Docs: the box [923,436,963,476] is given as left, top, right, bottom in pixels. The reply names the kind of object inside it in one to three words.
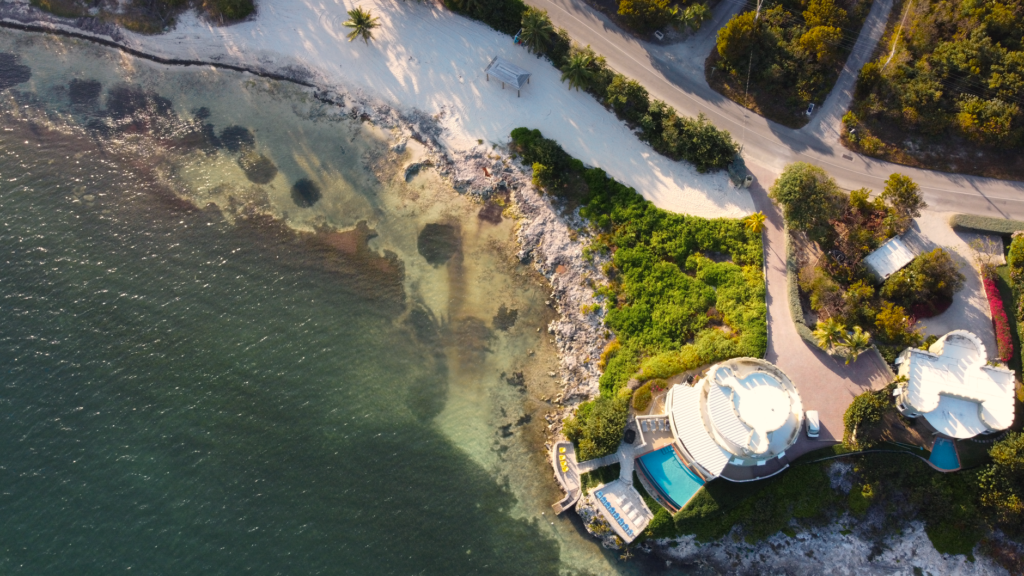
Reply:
swimming pool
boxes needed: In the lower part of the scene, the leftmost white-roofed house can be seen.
[665,362,806,481]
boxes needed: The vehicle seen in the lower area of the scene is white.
[804,406,823,436]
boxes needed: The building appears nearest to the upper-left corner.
[485,55,531,97]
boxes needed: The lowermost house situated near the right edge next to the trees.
[894,332,1014,439]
